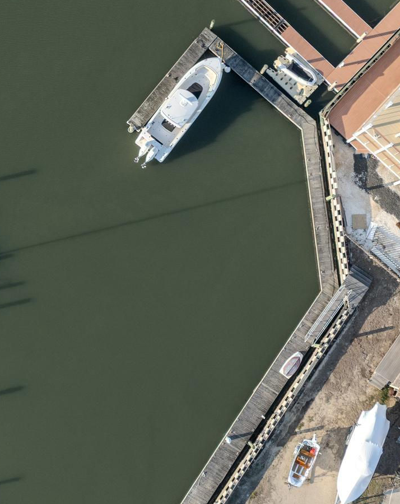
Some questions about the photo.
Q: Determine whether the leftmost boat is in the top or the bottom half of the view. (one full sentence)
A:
The top half of the photo is where the leftmost boat is.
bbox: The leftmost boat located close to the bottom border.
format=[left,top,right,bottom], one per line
[291,439,322,494]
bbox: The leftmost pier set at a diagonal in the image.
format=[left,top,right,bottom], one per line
[127,28,217,132]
